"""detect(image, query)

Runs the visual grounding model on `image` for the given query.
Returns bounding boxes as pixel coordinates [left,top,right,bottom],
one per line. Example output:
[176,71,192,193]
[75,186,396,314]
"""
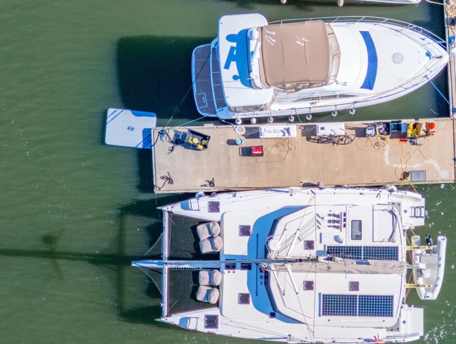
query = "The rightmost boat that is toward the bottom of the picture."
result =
[410,232,446,300]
